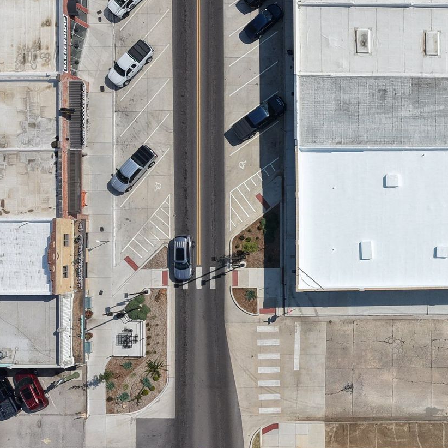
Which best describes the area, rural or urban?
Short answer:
urban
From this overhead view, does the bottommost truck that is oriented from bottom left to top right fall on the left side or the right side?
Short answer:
left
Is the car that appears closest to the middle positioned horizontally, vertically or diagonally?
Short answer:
vertically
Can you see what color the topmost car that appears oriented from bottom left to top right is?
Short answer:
black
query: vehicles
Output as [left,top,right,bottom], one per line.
[227,96,285,140]
[105,37,155,88]
[0,368,21,423]
[105,0,140,17]
[14,369,48,416]
[241,2,285,41]
[241,0,264,9]
[107,142,158,193]
[170,234,194,282]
